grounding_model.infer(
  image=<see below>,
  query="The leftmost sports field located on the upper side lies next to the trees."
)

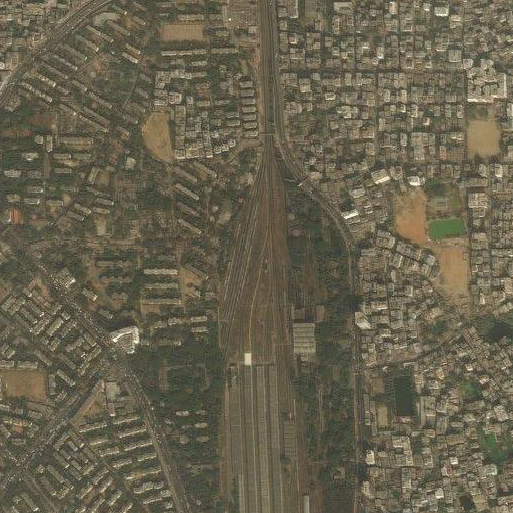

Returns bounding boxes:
[141,111,174,163]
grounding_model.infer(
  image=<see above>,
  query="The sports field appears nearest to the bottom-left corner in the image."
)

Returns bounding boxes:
[4,370,47,402]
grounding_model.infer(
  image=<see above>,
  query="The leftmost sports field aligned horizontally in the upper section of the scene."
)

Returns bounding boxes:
[162,25,205,42]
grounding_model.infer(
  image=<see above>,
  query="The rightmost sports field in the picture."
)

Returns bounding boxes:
[467,119,501,157]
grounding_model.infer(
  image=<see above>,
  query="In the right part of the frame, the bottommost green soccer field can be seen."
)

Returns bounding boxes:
[428,217,467,240]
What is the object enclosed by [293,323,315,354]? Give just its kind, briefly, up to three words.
building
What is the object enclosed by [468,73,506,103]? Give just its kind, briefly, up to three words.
building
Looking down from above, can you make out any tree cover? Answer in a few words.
Yes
